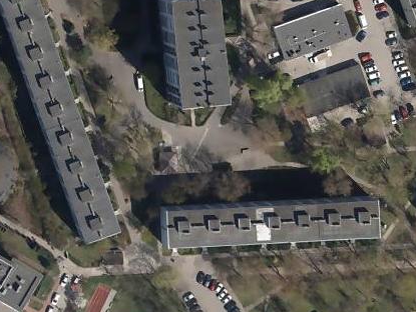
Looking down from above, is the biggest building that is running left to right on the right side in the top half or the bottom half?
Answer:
bottom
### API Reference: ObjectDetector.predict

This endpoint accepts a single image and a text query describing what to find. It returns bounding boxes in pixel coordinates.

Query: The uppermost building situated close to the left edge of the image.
[0,0,121,243]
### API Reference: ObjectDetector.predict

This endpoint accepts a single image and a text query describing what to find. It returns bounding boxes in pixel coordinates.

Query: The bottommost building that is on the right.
[162,199,381,255]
